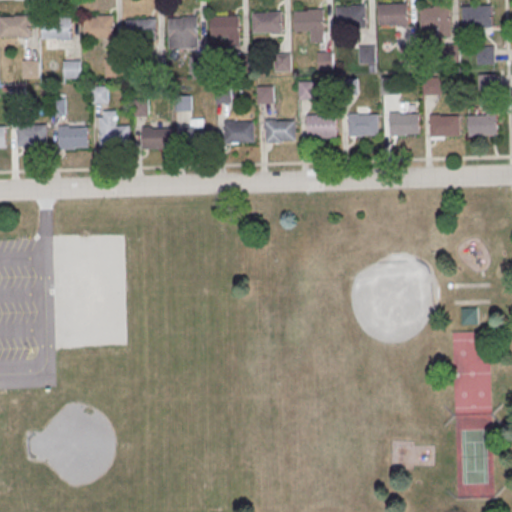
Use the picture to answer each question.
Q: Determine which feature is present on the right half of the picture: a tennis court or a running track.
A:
tennis court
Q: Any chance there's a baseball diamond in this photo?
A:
Yes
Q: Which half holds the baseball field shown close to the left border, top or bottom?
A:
bottom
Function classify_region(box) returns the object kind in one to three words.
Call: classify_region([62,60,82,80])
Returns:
building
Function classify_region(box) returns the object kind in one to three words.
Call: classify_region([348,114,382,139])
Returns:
house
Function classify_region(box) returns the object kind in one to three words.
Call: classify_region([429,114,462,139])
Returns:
house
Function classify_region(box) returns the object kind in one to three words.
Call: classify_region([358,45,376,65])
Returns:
building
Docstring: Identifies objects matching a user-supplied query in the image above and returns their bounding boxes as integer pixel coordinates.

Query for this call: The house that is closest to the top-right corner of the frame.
[461,6,495,28]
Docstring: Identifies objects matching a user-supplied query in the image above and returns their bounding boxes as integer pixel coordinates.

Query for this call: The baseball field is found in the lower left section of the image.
[26,401,118,488]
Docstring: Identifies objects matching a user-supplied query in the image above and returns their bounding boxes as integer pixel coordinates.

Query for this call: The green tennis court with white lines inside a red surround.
[457,415,494,498]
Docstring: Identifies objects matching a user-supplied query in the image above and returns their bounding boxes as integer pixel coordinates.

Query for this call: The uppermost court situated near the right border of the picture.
[453,332,492,414]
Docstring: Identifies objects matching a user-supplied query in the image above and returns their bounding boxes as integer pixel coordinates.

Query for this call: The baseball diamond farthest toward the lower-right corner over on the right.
[350,250,442,344]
